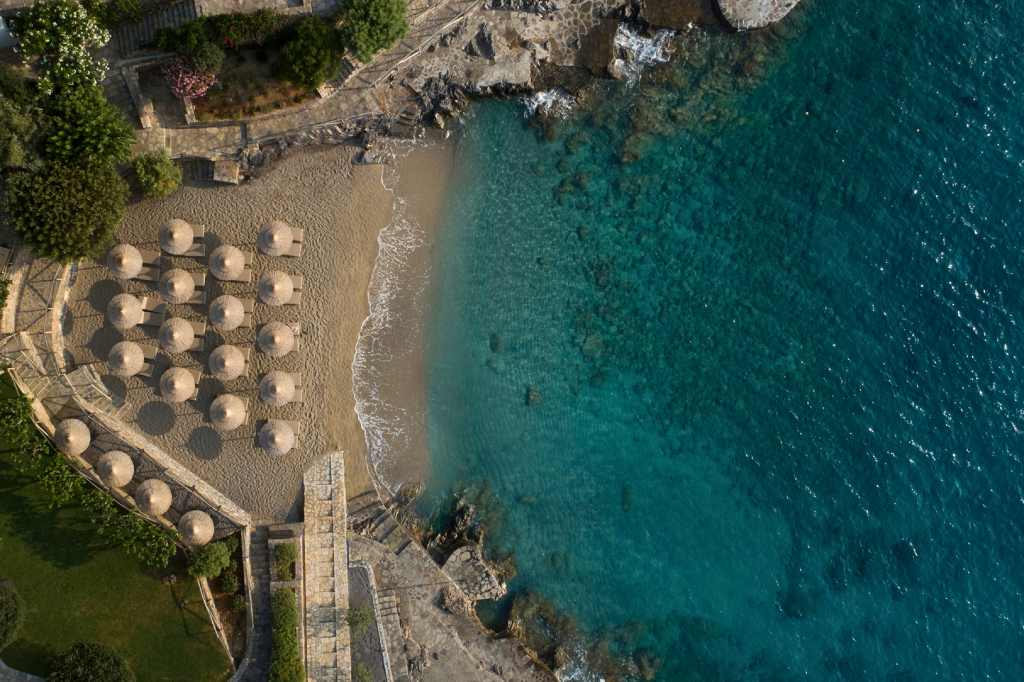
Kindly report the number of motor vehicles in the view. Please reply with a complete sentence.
Not a single motor vehicle can be seen.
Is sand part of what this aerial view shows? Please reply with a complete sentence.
Yes, some sand is visible.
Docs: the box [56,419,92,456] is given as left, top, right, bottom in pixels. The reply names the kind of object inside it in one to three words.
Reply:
umbrella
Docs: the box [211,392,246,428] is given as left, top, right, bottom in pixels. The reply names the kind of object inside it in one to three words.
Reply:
umbrella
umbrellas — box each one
[260,320,297,358]
[258,370,294,407]
[260,418,296,455]
[177,510,214,547]
[161,218,198,255]
[210,243,247,280]
[161,270,197,305]
[260,271,297,308]
[259,219,295,256]
[108,341,145,379]
[107,292,145,329]
[211,392,246,428]
[109,242,147,279]
[56,419,92,456]
[210,295,245,331]
[97,448,134,486]
[158,316,194,353]
[160,367,196,403]
[137,478,175,516]
[210,343,245,378]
